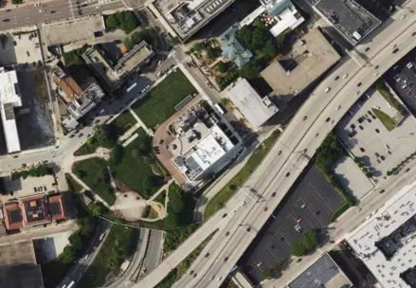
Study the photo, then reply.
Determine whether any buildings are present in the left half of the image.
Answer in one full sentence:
Yes, I can see a building in the left half of the image.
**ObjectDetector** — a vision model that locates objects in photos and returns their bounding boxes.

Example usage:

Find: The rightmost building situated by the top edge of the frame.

[311,0,382,46]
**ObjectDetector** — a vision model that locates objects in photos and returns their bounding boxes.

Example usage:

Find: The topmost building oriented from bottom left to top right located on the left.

[69,82,105,119]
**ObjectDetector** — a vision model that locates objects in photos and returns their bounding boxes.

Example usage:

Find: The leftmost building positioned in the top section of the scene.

[0,67,21,155]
